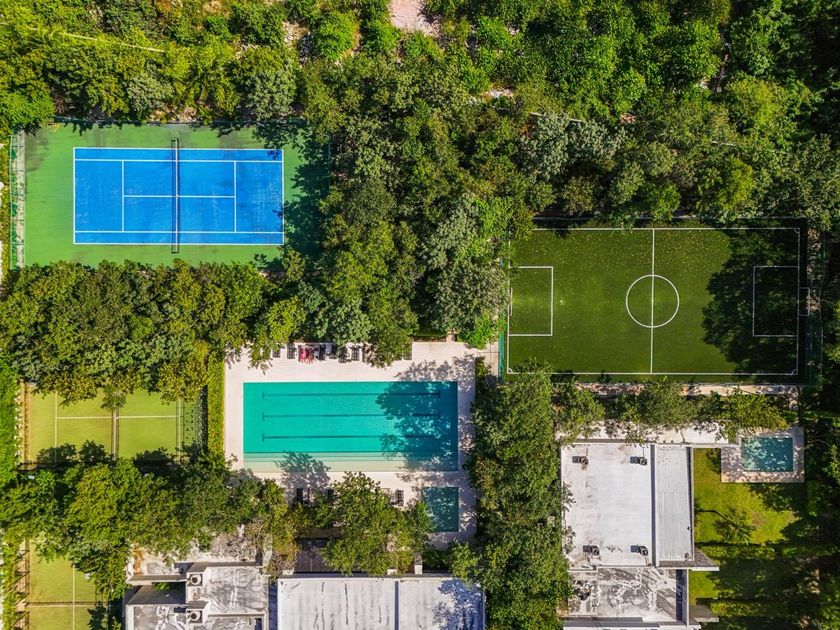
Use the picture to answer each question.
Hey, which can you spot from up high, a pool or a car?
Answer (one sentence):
The one in the frame is a pool.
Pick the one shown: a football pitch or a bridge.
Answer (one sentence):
Of the two, only a football pitch appears.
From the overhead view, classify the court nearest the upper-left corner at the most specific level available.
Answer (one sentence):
Looking closely, the court nearest the upper-left corner is a tennis court.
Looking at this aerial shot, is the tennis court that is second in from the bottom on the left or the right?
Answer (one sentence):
It is on the left.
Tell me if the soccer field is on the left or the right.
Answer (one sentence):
The soccer field is on the right side of the image.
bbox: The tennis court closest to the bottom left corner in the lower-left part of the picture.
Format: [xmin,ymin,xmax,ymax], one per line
[27,530,105,630]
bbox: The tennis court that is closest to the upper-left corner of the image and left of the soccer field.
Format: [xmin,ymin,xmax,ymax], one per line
[25,121,329,271]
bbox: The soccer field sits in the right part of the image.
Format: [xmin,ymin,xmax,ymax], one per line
[503,222,807,381]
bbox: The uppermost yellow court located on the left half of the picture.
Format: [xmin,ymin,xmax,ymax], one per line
[27,372,198,474]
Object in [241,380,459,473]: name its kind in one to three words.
swimming pool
